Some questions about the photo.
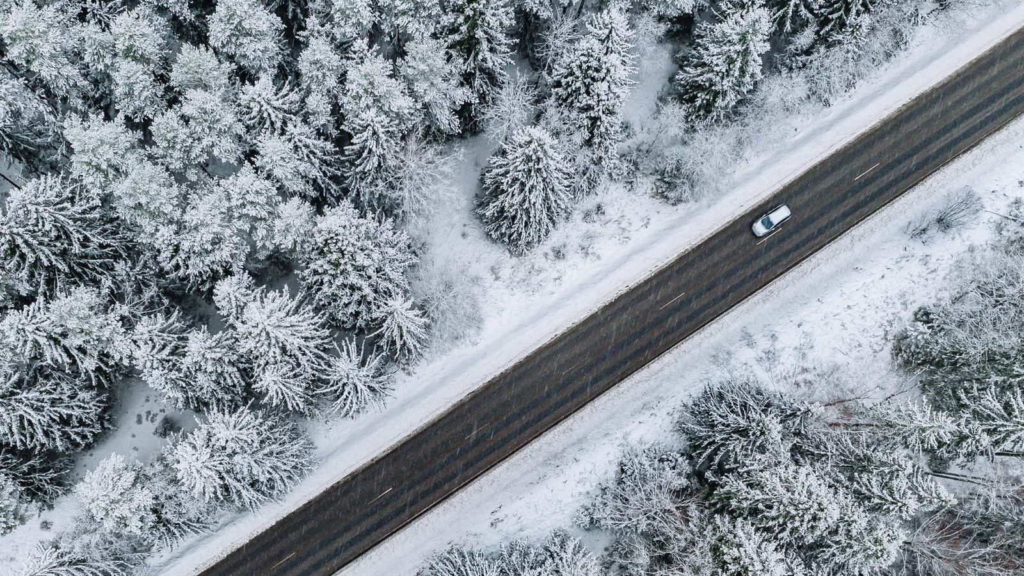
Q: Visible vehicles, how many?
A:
1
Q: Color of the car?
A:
white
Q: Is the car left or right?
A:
right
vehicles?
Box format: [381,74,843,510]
[751,200,799,237]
